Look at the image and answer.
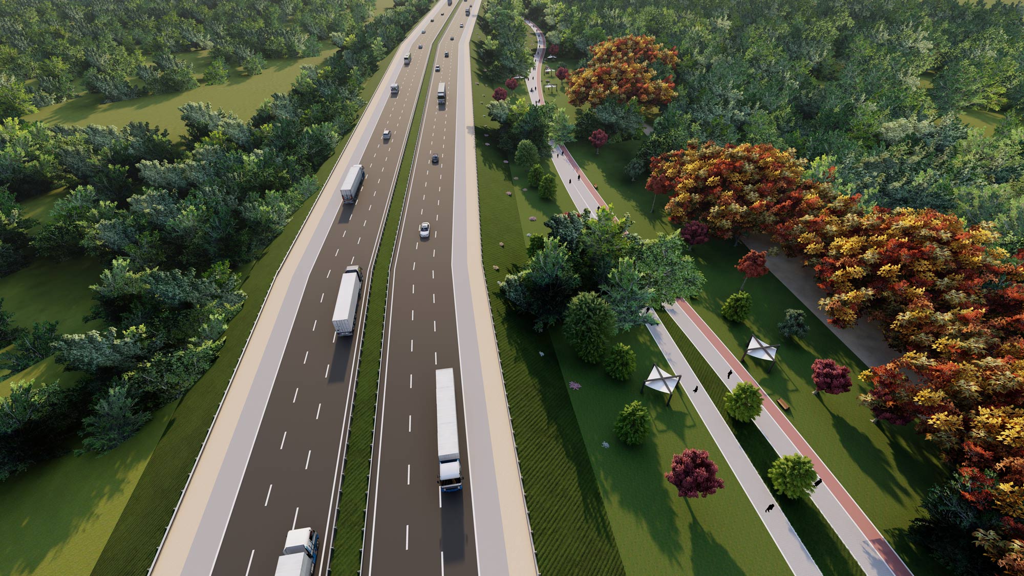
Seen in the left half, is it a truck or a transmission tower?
truck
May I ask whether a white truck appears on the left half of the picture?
Yes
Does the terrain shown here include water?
No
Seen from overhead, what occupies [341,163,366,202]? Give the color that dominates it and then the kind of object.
white truck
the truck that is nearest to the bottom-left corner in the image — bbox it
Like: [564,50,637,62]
[274,524,319,576]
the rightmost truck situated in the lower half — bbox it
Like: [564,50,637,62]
[434,366,462,491]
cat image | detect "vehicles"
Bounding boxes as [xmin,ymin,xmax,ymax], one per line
[274,524,319,576]
[432,152,439,161]
[434,366,462,491]
[341,163,366,202]
[404,52,411,63]
[331,264,362,334]
[383,130,391,137]
[465,6,470,14]
[420,223,430,235]
[391,85,398,93]
[437,82,446,103]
